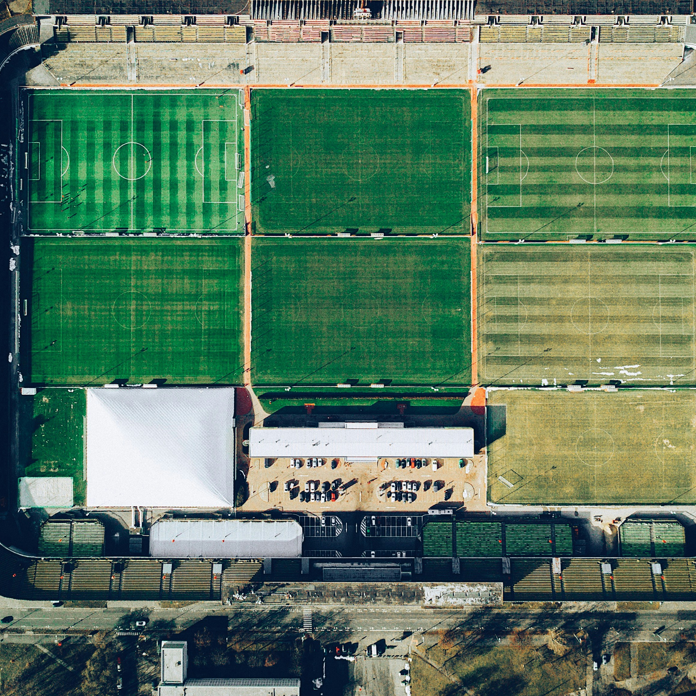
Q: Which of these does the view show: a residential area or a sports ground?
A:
sports ground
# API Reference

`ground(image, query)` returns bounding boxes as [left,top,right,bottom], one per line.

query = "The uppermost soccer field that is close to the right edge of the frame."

[477,89,696,242]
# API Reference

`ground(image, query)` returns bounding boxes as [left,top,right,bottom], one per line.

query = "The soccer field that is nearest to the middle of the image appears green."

[252,236,471,387]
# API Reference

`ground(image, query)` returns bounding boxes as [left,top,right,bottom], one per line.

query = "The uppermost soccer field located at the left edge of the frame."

[21,88,245,235]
